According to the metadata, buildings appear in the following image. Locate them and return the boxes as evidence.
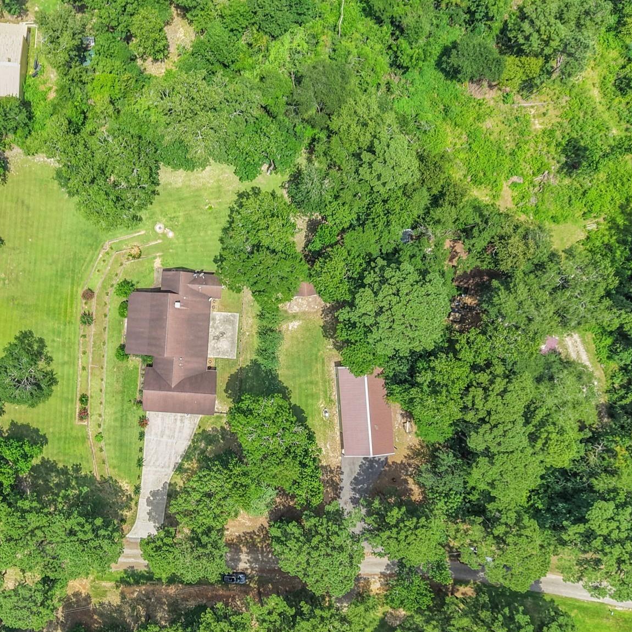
[0,22,31,106]
[293,278,318,297]
[537,336,558,354]
[124,271,222,414]
[335,364,396,457]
